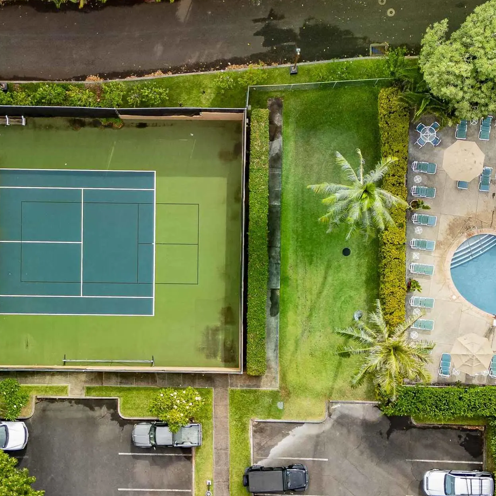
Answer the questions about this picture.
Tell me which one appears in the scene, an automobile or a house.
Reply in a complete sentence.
The one in the frame is an automobile.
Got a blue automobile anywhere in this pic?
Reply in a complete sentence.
No, no blue automobile is visible in the view.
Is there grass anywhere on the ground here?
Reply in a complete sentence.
Yes, there is grass in the image.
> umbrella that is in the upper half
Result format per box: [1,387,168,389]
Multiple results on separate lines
[442,139,484,181]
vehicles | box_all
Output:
[422,467,495,496]
[0,421,31,453]
[245,464,310,495]
[132,421,203,450]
